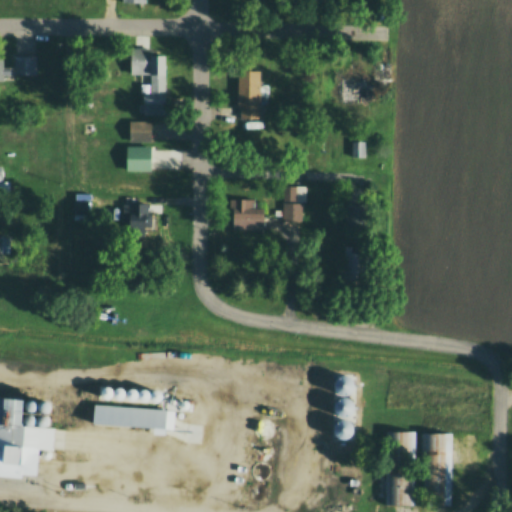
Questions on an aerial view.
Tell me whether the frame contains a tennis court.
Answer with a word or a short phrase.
No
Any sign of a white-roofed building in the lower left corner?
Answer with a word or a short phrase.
Yes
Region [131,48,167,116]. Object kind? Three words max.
house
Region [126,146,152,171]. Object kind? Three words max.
building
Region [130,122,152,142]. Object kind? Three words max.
shed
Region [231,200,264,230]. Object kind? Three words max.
house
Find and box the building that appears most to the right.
[421,433,454,509]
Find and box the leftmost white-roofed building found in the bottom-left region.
[0,399,55,478]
